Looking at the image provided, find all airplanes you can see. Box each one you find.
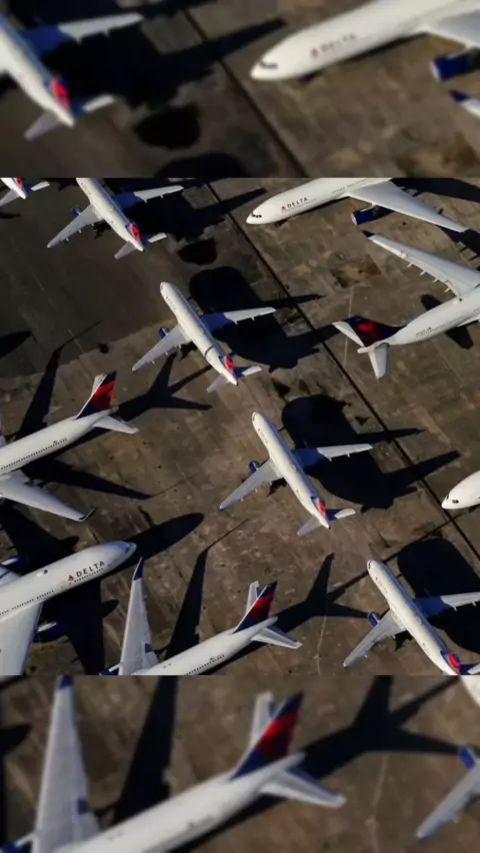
[248,73,480,234]
[0,542,135,716]
[0,125,71,204]
[345,561,480,691]
[0,350,138,523]
[0,2,140,137]
[441,471,480,511]
[66,696,343,853]
[330,233,480,376]
[221,412,372,535]
[132,280,278,393]
[46,164,186,259]
[250,0,480,85]
[1,561,304,761]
